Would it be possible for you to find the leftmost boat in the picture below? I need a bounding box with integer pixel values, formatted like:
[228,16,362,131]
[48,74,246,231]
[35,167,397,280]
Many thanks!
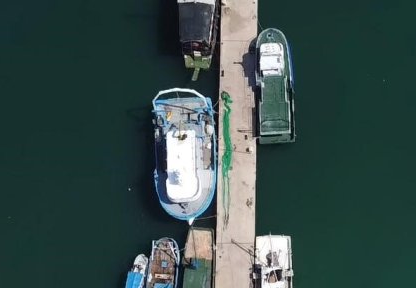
[126,254,149,288]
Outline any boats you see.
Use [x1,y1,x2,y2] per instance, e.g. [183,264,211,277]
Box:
[231,232,295,288]
[251,22,296,146]
[145,237,180,288]
[179,227,215,288]
[126,254,149,288]
[151,88,222,225]
[176,0,223,81]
